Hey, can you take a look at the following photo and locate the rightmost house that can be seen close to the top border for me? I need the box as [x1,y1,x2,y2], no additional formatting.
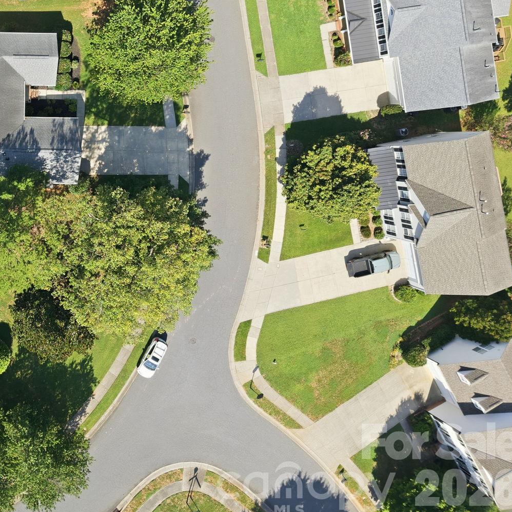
[339,0,509,113]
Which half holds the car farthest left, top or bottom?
bottom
